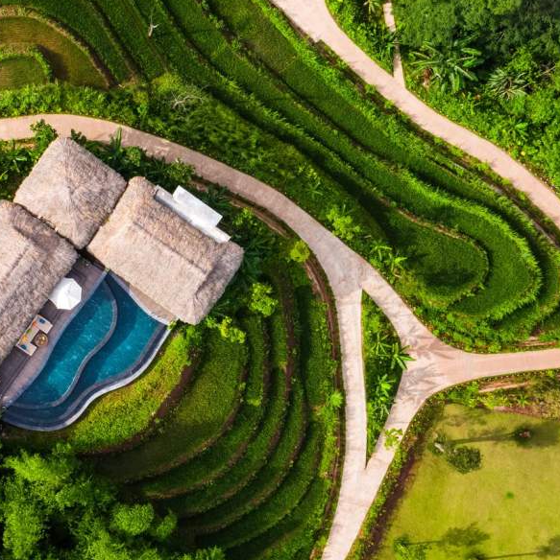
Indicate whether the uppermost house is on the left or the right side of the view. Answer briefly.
left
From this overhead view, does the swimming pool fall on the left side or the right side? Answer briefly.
left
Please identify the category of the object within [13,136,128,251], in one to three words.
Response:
house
